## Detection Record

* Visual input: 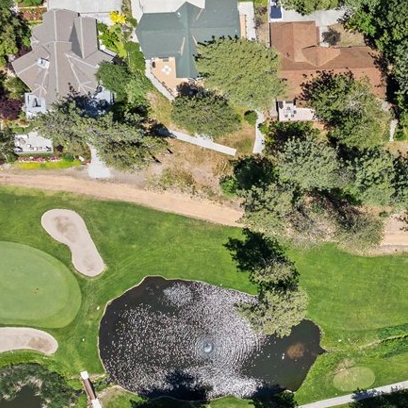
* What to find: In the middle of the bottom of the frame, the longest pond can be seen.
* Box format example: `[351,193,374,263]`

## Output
[100,276,324,399]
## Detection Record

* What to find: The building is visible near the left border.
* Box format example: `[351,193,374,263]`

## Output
[12,9,118,117]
